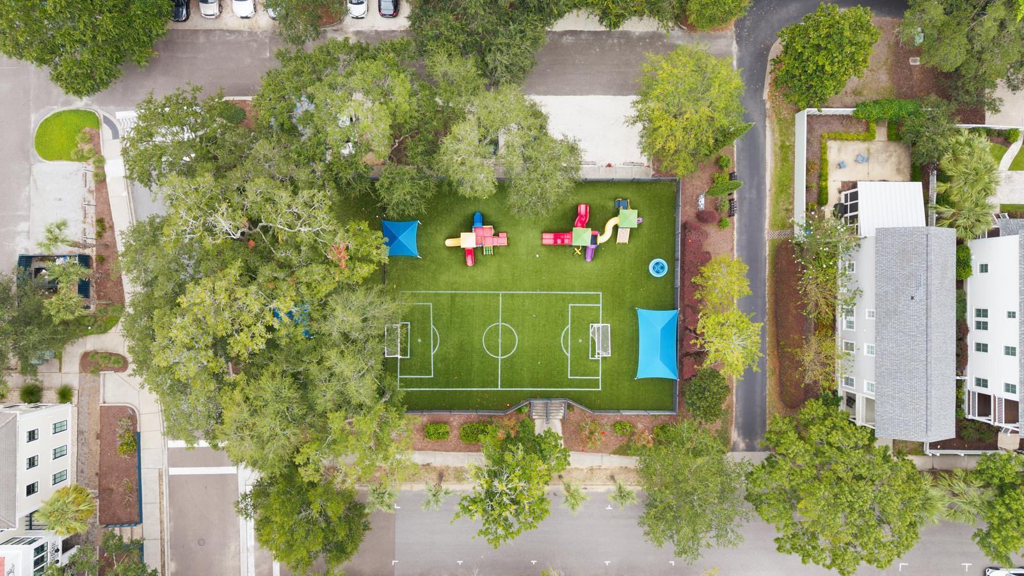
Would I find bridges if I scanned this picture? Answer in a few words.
No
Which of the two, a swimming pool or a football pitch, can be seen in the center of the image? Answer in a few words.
football pitch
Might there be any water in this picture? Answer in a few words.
No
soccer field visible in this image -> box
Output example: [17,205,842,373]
[395,289,605,392]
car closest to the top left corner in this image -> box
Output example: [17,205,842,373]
[165,0,192,22]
